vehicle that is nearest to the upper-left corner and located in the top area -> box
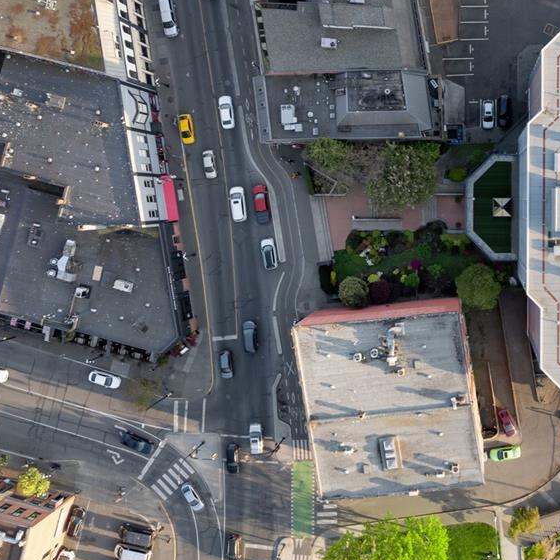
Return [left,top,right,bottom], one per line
[158,0,181,40]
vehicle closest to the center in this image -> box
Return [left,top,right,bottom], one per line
[260,237,280,271]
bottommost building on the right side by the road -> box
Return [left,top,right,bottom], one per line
[292,299,487,497]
